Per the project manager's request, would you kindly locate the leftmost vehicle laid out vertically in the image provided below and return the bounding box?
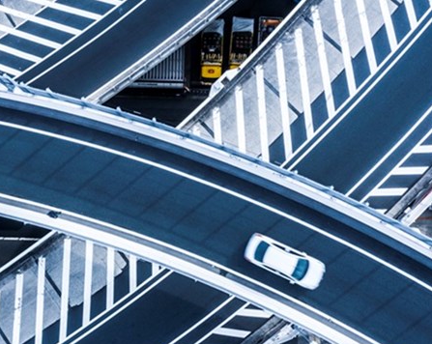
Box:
[200,16,227,82]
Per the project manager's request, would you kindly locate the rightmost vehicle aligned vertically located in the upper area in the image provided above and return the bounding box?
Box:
[228,12,255,70]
